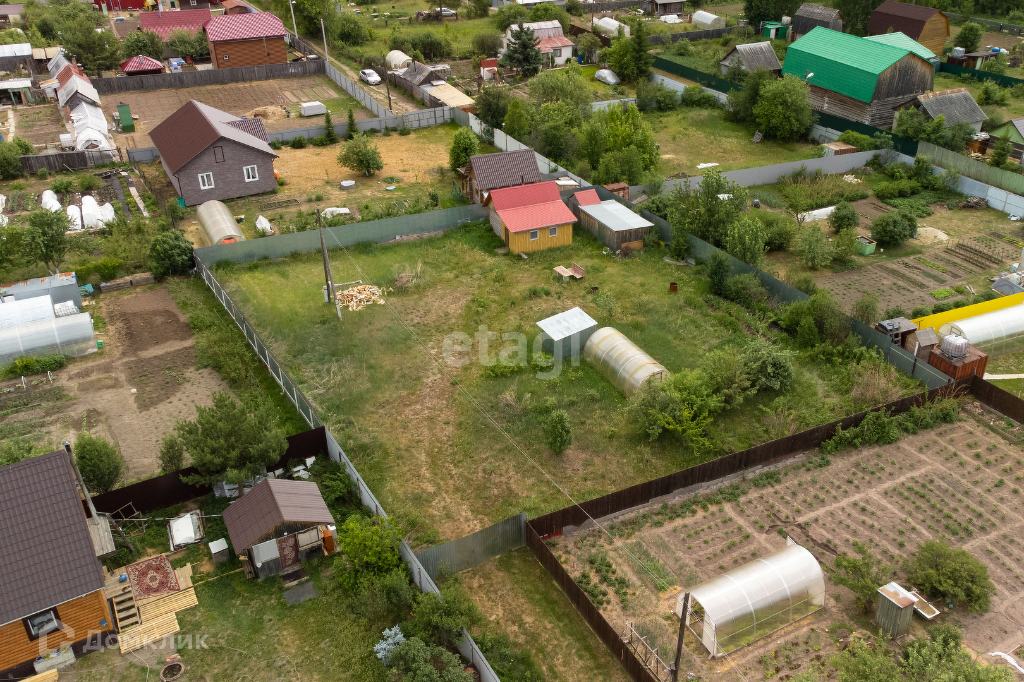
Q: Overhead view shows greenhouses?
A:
Yes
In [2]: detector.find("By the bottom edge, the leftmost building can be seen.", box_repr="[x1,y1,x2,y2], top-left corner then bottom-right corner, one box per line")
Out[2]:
[0,440,111,676]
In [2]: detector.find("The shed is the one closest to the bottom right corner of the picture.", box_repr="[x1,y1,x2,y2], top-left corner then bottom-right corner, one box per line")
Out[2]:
[871,577,918,635]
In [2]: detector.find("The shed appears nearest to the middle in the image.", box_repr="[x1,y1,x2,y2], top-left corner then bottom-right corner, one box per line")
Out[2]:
[530,307,597,362]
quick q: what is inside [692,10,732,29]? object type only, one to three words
greenhouse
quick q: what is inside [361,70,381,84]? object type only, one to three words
car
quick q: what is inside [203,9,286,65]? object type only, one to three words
house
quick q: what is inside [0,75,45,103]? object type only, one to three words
shed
